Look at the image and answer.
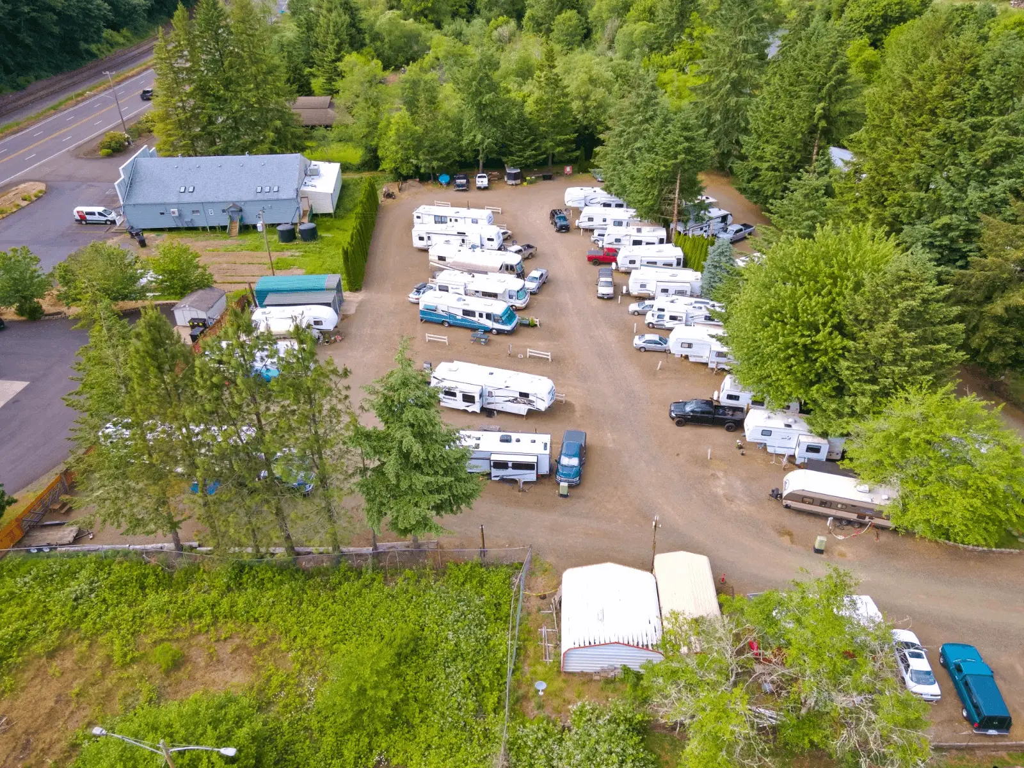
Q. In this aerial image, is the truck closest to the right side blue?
Yes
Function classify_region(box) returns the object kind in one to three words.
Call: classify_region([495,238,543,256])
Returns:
vehicle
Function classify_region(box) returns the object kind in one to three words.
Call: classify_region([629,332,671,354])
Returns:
car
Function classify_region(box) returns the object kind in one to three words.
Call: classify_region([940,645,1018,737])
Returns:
truck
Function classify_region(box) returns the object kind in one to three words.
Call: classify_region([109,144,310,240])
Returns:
building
